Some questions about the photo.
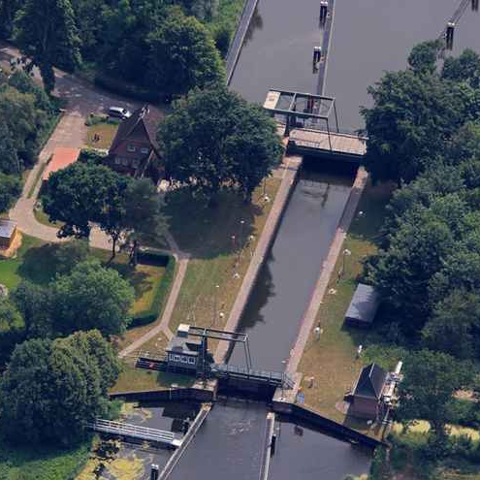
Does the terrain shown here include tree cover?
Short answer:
Yes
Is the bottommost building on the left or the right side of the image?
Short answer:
right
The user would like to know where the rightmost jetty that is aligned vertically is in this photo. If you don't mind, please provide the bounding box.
[312,0,335,125]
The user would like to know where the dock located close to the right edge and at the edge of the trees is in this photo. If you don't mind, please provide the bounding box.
[431,0,475,52]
